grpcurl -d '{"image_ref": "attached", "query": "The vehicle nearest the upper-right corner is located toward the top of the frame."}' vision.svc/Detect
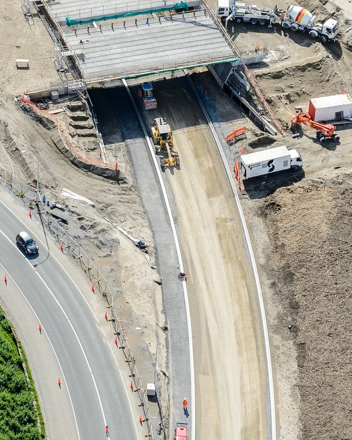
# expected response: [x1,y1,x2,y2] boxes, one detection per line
[283,0,337,38]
